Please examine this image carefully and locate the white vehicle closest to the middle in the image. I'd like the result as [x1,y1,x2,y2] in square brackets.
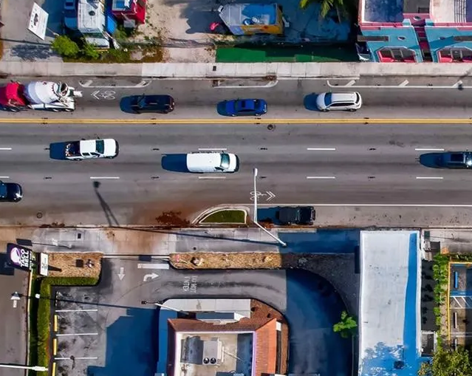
[186,150,239,173]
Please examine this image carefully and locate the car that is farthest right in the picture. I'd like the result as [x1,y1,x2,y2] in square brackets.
[442,149,472,171]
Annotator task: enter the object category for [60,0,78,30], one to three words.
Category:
car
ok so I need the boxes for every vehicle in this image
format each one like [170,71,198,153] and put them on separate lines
[226,96,269,118]
[351,23,370,59]
[77,0,114,57]
[186,150,239,173]
[316,90,362,113]
[66,136,120,159]
[0,80,84,113]
[442,149,472,171]
[60,0,78,30]
[0,180,25,202]
[132,91,177,114]
[276,204,316,225]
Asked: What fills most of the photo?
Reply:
paved ground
